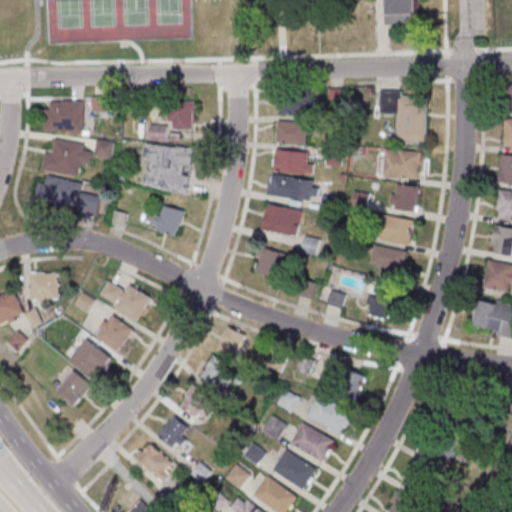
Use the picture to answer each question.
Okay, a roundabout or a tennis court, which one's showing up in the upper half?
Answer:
tennis court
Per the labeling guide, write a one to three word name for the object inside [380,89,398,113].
building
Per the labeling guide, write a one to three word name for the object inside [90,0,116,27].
tennis court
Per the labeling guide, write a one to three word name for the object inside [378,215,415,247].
house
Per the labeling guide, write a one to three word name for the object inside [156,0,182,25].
tennis court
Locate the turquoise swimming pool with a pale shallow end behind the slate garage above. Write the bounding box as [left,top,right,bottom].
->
[326,268,366,303]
